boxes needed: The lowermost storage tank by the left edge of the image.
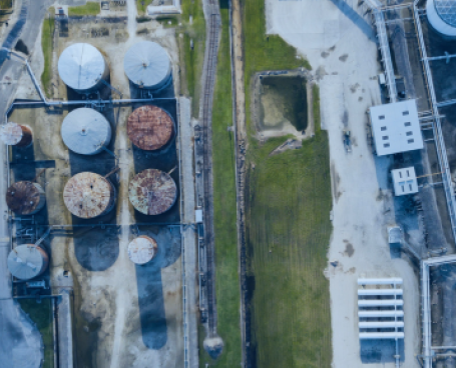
[8,242,51,280]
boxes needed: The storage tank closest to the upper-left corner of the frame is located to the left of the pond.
[58,43,111,94]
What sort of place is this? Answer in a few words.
industrial area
